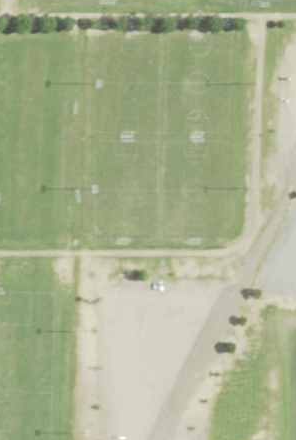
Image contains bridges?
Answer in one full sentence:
No, no bridge is visible in the scene.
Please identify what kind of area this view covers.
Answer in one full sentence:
The picture captures a sports ground.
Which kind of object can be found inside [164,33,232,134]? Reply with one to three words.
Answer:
soccer field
